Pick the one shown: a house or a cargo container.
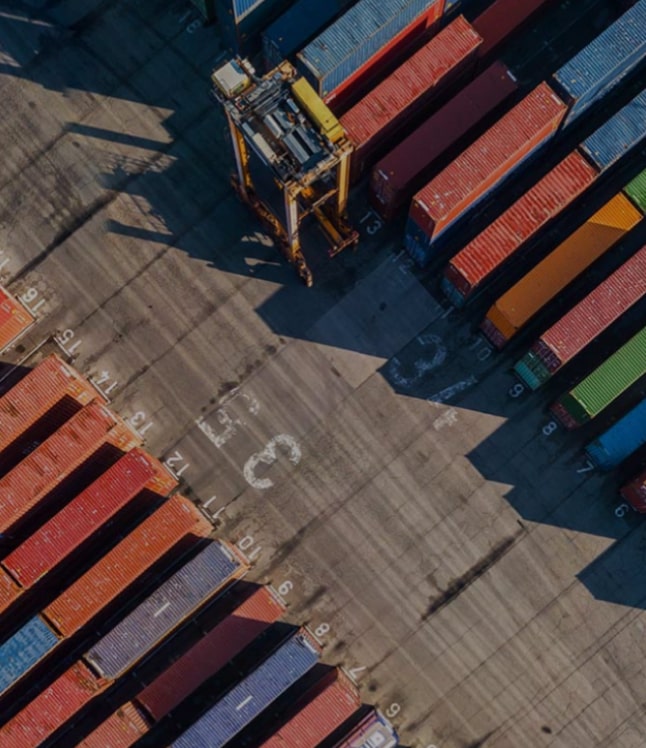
cargo container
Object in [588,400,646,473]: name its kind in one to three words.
shipping container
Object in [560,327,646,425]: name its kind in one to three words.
shipping container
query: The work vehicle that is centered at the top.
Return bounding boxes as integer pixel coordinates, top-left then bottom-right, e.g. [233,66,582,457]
[205,41,365,278]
